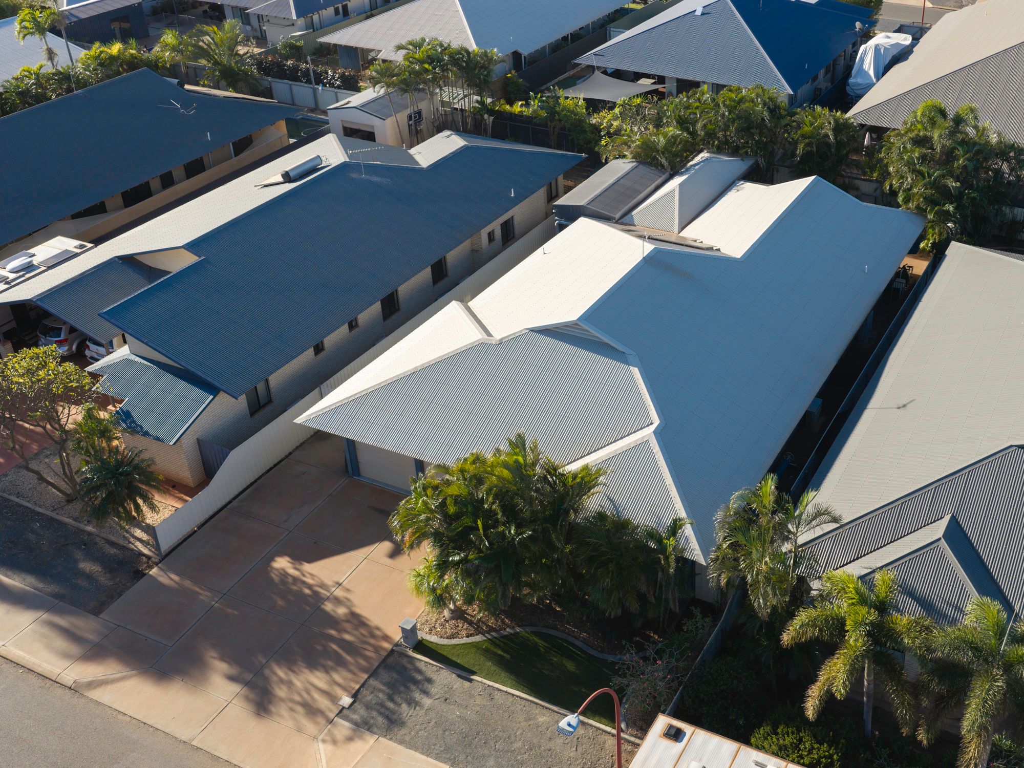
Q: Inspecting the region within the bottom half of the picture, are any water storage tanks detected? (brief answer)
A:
No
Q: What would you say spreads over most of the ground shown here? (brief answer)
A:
buildings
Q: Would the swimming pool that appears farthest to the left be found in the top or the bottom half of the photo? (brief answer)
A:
top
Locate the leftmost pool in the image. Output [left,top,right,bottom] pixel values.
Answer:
[275,113,333,146]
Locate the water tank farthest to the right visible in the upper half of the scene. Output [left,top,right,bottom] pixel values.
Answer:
[273,146,335,177]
